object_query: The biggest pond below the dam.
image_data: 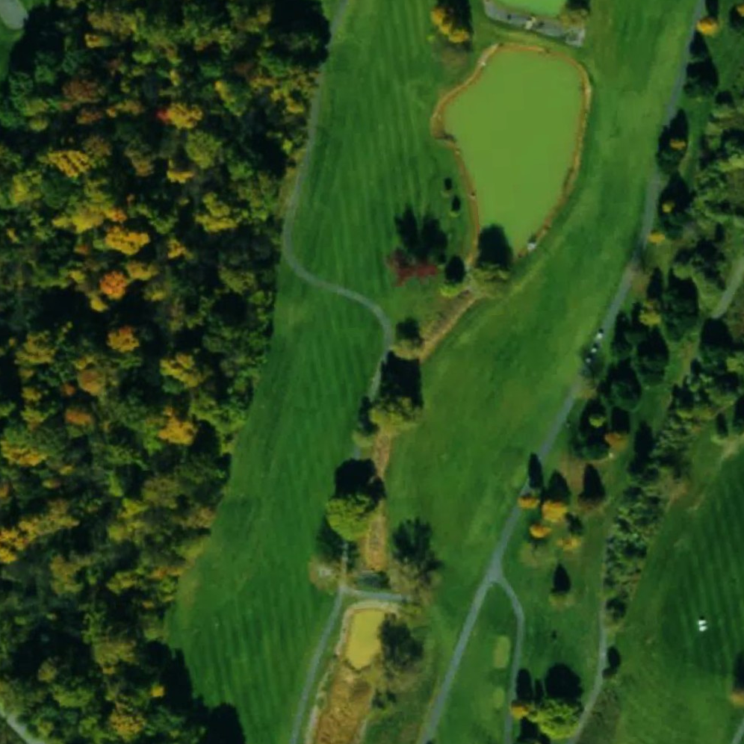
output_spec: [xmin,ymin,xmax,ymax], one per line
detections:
[437,39,590,271]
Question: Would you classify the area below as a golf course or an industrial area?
golf course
